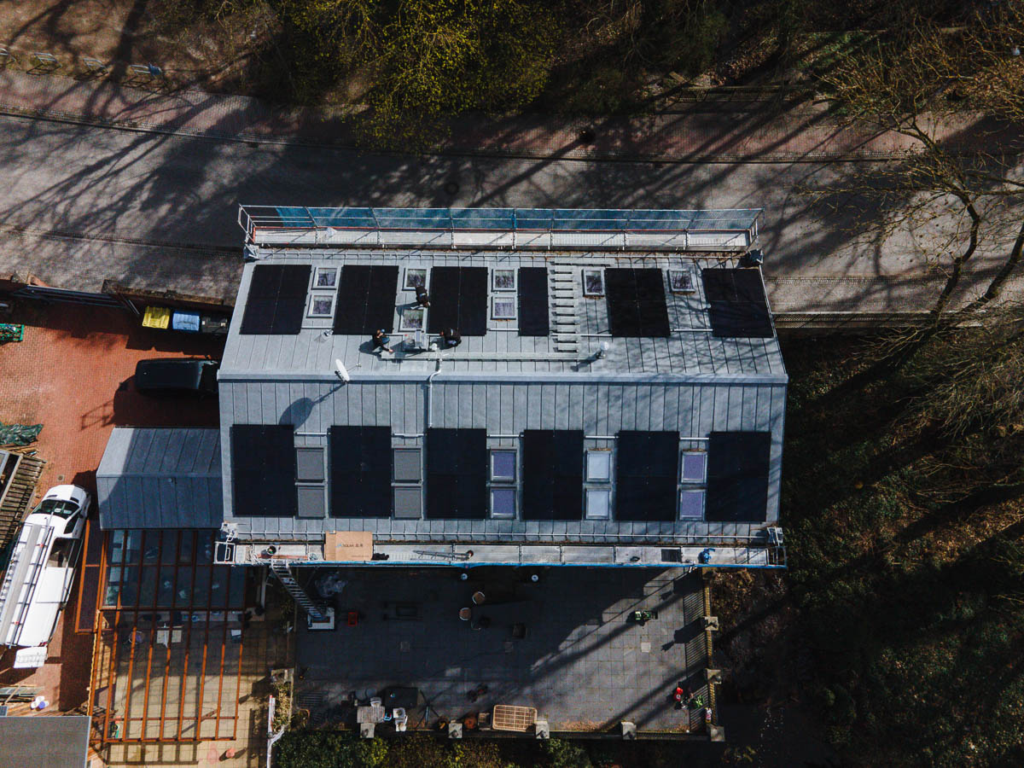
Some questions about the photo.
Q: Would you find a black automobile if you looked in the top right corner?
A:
No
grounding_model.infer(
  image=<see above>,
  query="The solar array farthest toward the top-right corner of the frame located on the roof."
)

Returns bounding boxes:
[701,269,773,338]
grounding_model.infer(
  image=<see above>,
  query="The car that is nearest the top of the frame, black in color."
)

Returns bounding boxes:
[130,360,217,403]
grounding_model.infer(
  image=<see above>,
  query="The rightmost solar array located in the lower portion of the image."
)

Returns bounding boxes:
[706,432,770,522]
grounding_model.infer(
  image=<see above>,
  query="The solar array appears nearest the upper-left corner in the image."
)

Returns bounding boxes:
[240,265,313,334]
